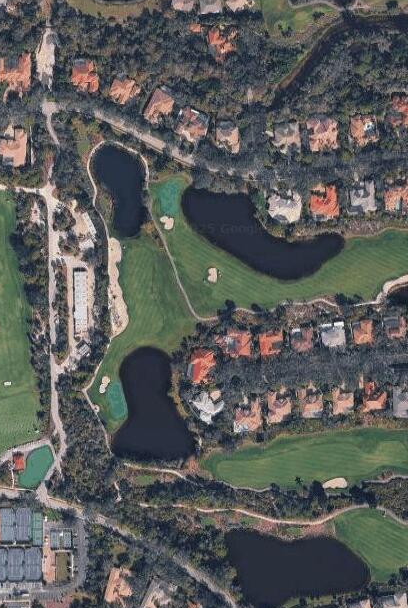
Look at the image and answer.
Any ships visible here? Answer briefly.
No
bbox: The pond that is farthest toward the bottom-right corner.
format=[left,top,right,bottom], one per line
[224,530,370,608]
